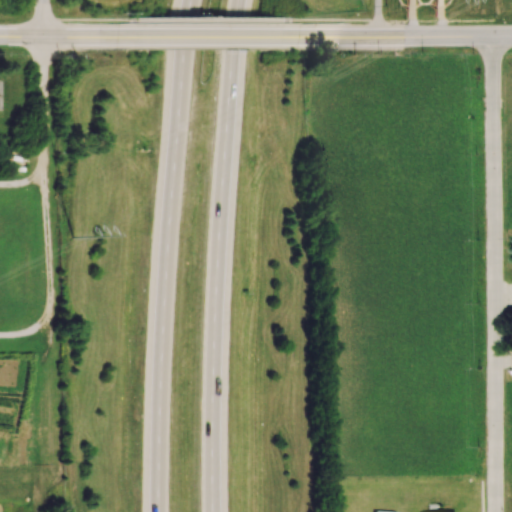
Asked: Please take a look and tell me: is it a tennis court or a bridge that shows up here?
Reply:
bridge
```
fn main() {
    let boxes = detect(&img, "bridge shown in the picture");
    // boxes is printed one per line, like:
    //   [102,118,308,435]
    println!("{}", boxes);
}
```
[131,17,290,50]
